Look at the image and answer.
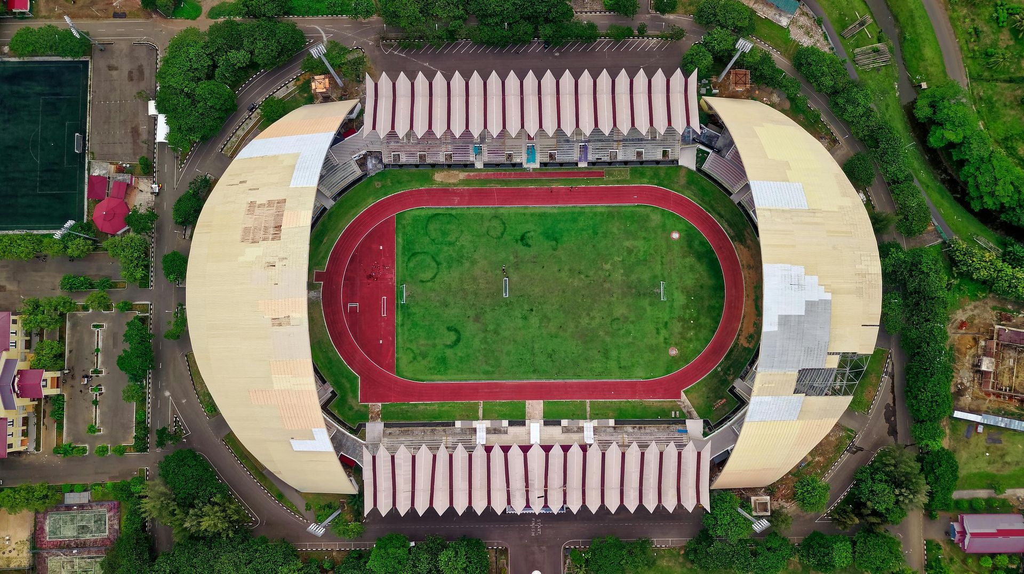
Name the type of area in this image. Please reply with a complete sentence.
The area seen from above is a sports ground.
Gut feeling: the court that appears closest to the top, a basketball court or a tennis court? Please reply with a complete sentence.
I'd identify the court that appears closest to the top as a tennis court.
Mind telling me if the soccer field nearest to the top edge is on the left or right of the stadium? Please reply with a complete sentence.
Relative to the stadium, the soccer field nearest to the top edge lies to the left.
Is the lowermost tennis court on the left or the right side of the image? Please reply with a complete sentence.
The lowermost tennis court appears in the left half of the scene.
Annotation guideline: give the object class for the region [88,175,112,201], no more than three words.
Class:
shed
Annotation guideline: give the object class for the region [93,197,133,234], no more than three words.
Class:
building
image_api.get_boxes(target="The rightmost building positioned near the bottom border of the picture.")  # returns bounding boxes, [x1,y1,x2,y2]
[952,514,1024,553]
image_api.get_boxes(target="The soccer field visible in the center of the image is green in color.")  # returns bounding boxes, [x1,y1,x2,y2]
[395,204,724,382]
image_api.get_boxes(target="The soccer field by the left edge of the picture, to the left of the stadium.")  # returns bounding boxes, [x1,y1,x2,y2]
[0,55,91,234]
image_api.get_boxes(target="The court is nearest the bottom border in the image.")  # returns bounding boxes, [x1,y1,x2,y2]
[29,546,120,574]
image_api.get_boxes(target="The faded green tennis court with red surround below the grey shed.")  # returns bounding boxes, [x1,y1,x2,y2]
[29,502,119,552]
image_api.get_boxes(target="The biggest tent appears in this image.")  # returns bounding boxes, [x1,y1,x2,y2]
[155,114,170,144]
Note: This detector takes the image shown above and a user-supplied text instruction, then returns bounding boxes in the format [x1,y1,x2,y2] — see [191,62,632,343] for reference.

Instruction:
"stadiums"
[186,68,882,517]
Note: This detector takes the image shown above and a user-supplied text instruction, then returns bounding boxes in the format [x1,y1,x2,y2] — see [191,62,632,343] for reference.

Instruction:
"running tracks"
[314,185,745,404]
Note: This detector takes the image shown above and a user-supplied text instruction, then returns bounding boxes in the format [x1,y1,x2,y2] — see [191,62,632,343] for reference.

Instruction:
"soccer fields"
[0,55,91,234]
[395,204,724,382]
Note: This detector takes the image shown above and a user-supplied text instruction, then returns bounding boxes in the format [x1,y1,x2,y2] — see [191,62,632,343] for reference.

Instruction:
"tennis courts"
[29,546,120,574]
[29,502,119,552]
